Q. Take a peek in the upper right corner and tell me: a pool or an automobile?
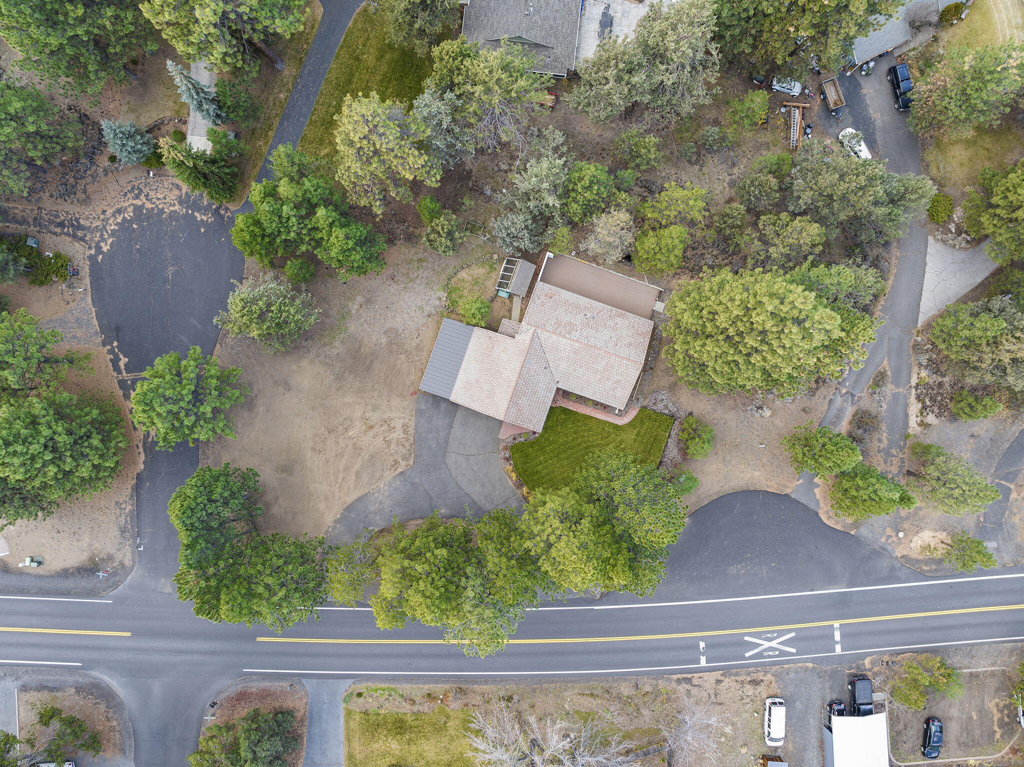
automobile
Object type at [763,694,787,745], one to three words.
vehicle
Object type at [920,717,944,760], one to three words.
car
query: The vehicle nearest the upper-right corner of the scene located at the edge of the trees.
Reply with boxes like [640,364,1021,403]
[886,61,913,113]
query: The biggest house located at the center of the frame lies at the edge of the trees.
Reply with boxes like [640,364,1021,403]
[419,249,667,433]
